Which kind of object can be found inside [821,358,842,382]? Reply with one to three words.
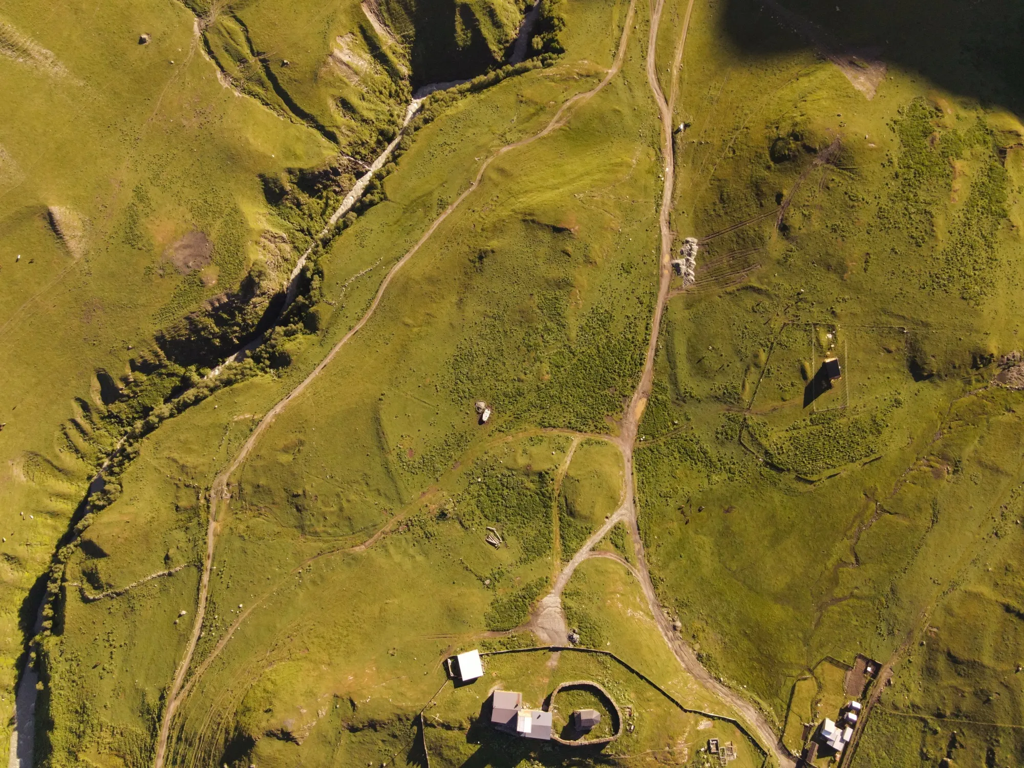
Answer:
house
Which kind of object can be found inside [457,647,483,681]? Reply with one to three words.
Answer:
barn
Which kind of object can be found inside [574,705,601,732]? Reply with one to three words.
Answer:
building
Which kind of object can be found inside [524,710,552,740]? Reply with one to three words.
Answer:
house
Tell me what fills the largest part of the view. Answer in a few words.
grass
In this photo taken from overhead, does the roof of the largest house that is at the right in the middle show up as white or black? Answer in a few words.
black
